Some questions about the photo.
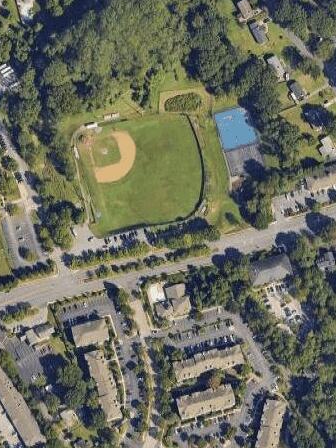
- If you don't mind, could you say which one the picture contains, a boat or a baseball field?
baseball field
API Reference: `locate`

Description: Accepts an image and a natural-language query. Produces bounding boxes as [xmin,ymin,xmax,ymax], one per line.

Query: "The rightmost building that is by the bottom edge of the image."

[258,401,283,448]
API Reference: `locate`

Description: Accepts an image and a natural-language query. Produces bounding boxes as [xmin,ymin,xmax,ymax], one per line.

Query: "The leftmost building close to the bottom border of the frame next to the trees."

[0,370,42,448]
